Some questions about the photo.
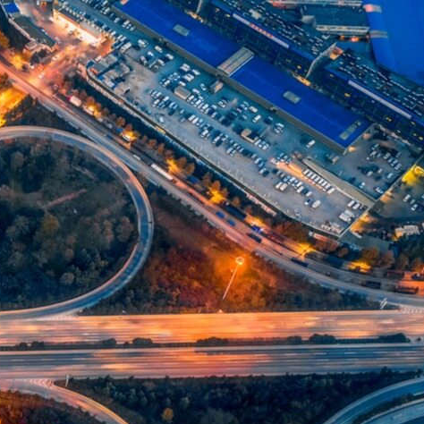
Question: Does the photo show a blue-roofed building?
Yes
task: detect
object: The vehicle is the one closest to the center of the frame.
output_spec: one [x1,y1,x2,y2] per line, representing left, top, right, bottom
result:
[223,203,241,216]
